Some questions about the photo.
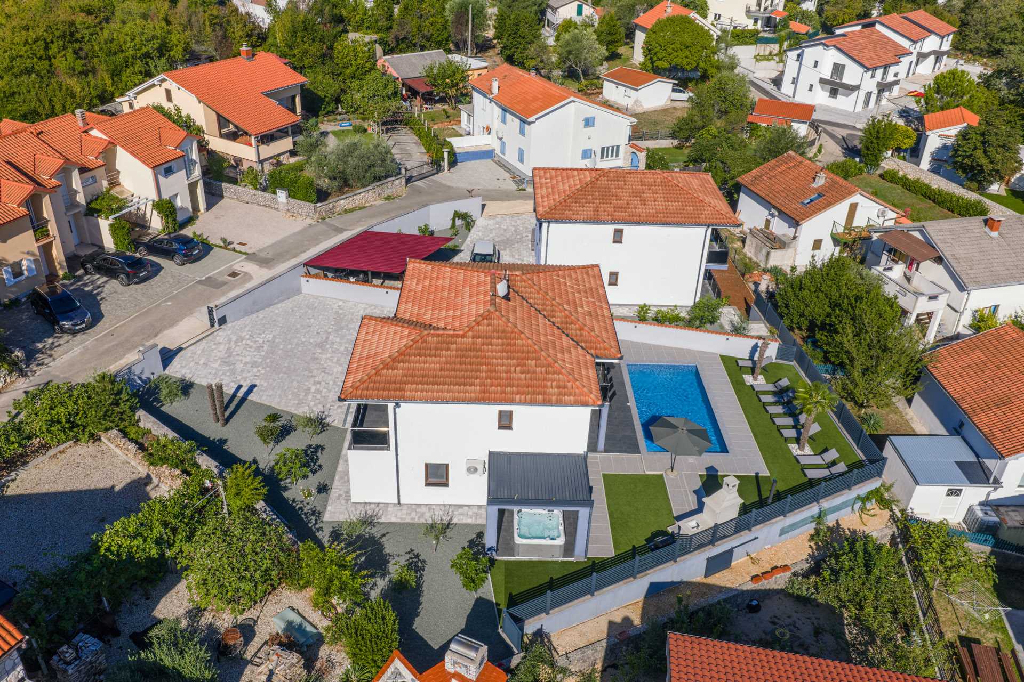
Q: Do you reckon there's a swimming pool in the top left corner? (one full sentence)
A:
No, the scene shows no swimming pool in the top left corner.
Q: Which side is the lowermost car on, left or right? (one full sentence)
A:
You can find the lowermost car on the left side of the picture.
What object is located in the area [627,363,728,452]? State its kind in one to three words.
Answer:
swimming pool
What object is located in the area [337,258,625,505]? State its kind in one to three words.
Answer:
house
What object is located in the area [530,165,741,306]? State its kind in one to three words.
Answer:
house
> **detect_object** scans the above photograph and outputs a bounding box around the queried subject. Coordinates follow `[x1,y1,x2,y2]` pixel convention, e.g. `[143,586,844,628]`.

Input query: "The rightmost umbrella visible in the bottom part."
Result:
[650,420,711,479]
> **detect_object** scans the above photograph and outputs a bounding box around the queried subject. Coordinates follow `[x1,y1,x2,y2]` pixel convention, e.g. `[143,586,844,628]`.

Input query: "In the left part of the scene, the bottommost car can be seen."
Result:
[27,272,88,326]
